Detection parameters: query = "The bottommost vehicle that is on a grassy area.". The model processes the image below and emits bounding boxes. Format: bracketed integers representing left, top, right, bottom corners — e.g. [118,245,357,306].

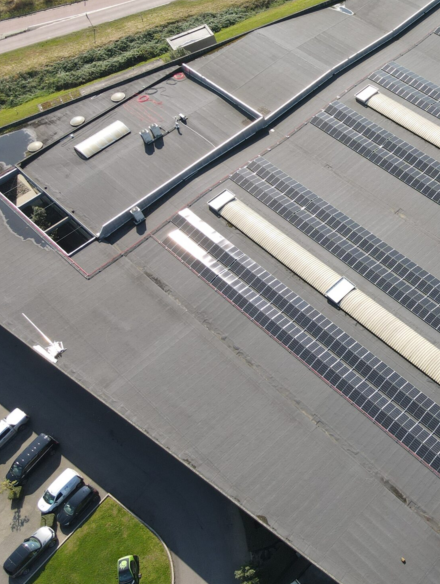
[116,548,142,584]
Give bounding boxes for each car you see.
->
[39,467,89,512]
[56,486,103,530]
[116,548,142,584]
[0,409,32,447]
[0,530,58,582]
[3,434,63,486]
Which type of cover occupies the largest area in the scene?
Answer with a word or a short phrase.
buildings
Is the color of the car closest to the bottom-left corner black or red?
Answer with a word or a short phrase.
black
